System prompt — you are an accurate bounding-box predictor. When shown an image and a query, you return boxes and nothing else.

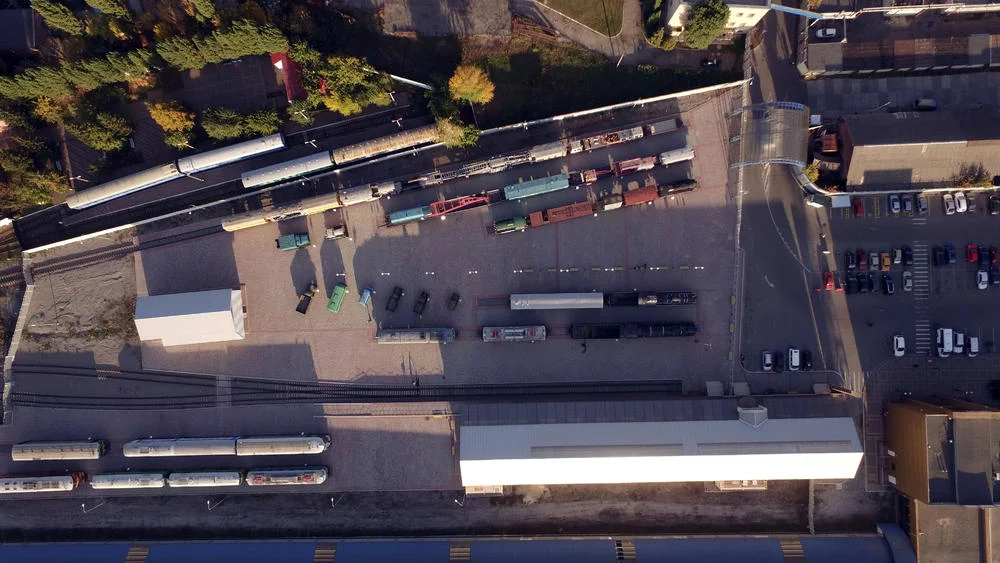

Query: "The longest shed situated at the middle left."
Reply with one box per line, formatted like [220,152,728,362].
[134,289,246,345]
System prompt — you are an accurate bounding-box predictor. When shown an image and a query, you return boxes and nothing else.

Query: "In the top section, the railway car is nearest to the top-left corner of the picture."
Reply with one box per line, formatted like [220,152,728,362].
[225,192,343,235]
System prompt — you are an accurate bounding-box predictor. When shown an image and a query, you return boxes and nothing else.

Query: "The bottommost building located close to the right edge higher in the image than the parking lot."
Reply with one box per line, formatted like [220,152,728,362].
[837,111,1000,191]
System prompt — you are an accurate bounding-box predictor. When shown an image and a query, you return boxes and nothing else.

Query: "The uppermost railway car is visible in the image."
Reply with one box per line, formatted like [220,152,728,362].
[643,117,683,139]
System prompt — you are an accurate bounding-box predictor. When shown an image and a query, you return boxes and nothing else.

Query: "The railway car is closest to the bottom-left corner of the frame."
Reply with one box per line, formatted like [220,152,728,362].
[0,470,79,491]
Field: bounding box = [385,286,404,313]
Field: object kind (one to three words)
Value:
vehicle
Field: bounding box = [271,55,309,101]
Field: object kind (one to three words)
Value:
building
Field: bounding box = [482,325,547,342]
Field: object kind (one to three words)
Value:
rail car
